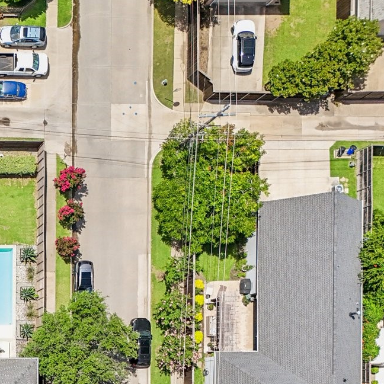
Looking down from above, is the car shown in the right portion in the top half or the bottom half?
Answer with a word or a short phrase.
top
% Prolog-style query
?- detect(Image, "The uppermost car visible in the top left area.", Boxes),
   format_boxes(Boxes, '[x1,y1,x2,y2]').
[0,26,45,52]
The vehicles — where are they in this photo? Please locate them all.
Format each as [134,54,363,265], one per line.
[229,26,255,75]
[127,320,152,369]
[0,53,45,78]
[0,82,26,103]
[71,257,95,305]
[0,26,45,52]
